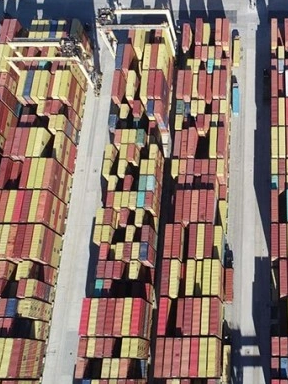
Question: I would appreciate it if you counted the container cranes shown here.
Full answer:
In total, 2 container cranes can be seen.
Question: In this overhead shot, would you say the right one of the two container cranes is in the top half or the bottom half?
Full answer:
The top half of the photo is where the right one of the two container cranes is.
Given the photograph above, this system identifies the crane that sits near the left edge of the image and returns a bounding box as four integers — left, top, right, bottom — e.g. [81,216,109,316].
[2,31,100,96]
